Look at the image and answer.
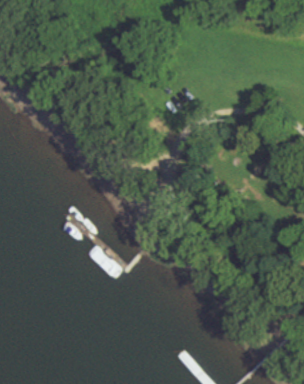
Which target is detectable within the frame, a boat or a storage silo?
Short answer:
boat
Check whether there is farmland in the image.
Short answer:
No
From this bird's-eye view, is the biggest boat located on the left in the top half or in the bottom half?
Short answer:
bottom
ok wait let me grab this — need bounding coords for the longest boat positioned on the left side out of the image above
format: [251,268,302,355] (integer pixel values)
[90,246,122,278]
